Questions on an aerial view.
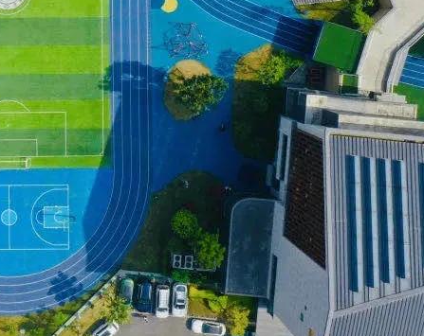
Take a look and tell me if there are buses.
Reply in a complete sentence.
No, there isn't any bus down there.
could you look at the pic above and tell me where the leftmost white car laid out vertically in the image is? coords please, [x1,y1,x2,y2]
[155,283,170,317]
